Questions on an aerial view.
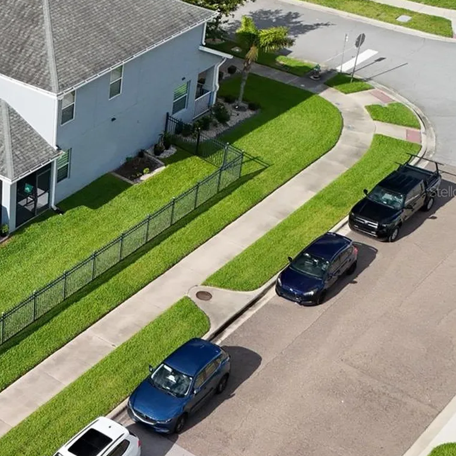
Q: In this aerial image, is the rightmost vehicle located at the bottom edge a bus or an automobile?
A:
automobile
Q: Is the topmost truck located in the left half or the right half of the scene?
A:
right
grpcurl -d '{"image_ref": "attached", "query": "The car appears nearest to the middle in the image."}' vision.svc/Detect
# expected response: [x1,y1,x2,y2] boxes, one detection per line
[276,227,365,304]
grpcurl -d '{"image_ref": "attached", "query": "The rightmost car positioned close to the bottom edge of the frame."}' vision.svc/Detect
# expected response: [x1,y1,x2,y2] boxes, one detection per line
[129,336,241,434]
